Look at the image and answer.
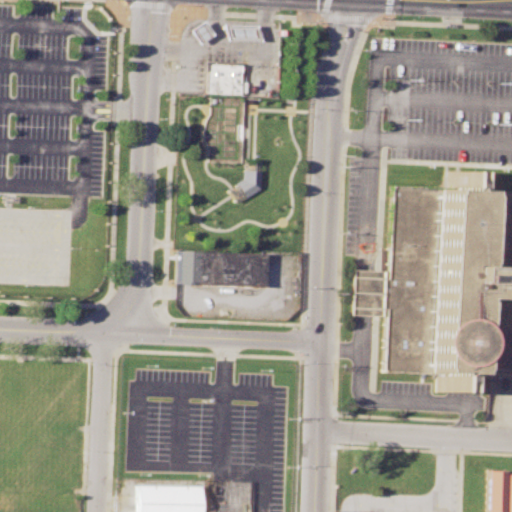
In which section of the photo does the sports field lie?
bottom left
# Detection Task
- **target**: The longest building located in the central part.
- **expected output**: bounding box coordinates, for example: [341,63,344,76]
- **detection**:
[164,251,274,288]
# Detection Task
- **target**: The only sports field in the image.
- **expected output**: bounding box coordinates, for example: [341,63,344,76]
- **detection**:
[0,360,86,512]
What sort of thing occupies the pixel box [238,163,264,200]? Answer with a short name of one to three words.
building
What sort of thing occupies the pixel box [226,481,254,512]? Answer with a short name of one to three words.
shed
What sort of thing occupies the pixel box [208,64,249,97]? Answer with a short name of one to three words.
building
